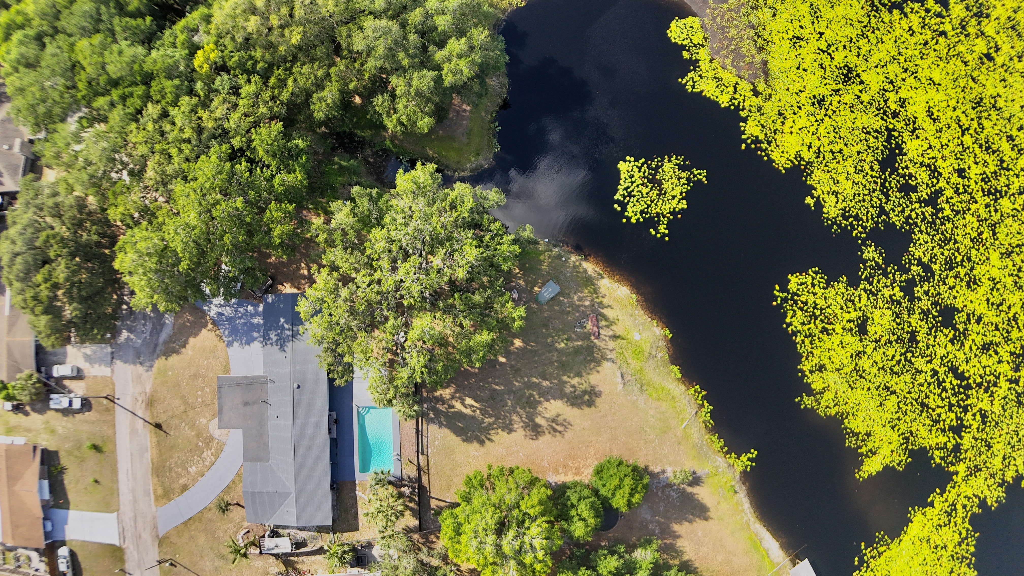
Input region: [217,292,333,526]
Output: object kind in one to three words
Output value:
house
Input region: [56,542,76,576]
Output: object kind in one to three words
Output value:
vehicle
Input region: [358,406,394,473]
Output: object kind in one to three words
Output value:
swimming pool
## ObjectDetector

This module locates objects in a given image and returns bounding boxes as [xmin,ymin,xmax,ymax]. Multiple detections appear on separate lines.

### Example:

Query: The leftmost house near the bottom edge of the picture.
[0,444,56,548]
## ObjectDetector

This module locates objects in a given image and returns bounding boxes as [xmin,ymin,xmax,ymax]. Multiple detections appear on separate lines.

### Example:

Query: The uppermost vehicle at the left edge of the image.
[50,364,82,378]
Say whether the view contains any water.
Yes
